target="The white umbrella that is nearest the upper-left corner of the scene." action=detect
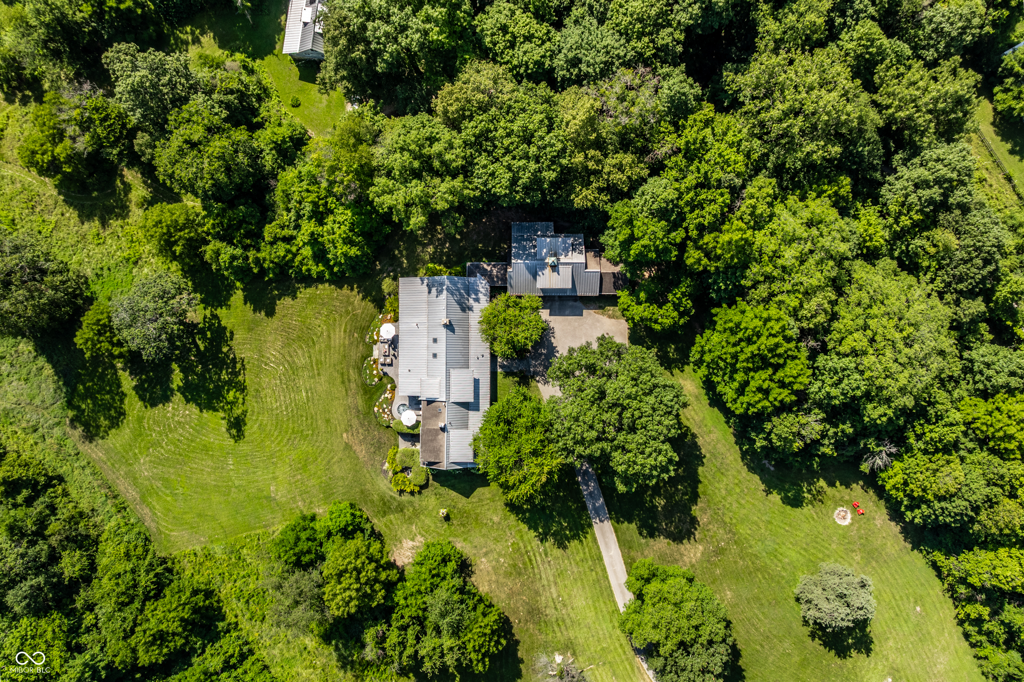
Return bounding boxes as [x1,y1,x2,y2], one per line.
[381,324,395,338]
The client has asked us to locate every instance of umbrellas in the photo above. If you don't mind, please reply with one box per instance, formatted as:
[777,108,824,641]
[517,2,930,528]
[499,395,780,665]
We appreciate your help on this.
[402,411,416,425]
[381,324,395,338]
